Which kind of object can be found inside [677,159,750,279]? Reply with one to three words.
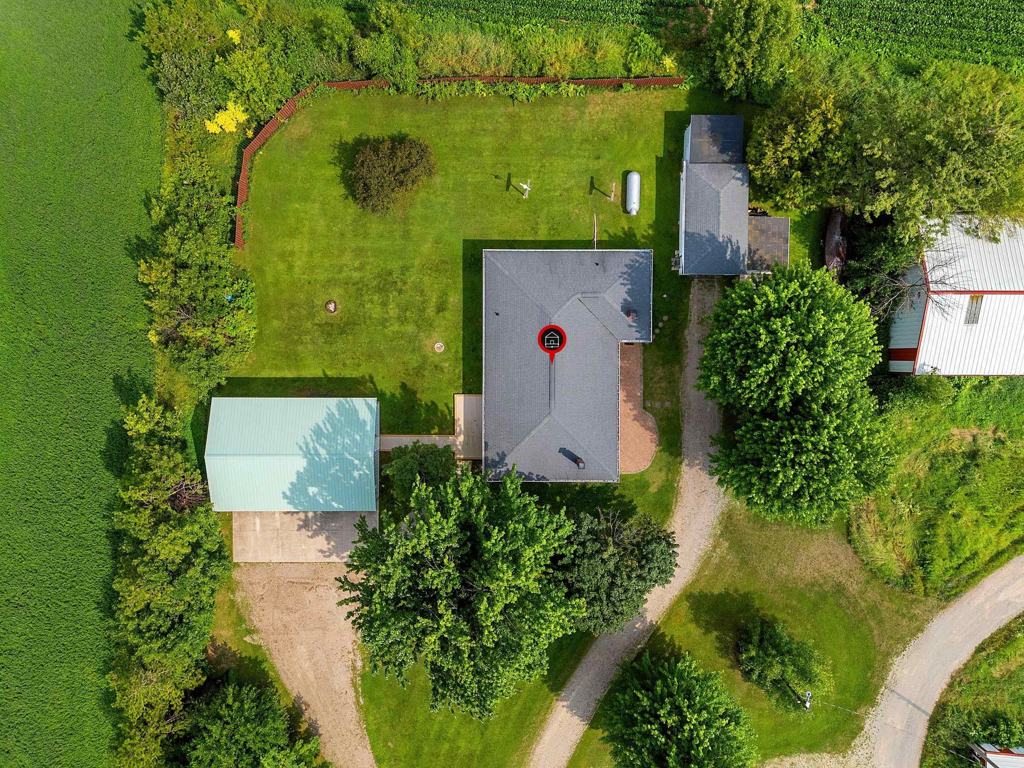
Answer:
shed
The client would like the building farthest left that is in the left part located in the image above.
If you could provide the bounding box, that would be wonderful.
[204,397,381,511]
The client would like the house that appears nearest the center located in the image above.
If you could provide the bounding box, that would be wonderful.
[481,248,655,484]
